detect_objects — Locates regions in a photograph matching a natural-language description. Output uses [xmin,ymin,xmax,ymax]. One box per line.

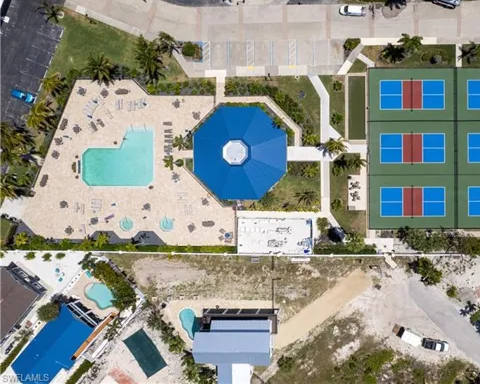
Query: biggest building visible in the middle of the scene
[193,106,287,199]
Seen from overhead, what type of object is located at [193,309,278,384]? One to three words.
house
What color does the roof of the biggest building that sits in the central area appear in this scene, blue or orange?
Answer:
blue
